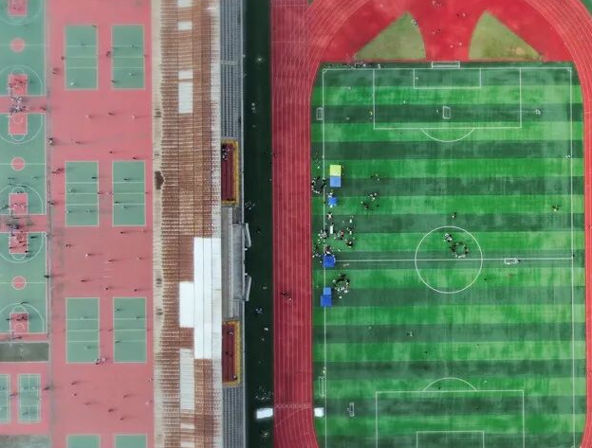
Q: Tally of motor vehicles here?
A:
zero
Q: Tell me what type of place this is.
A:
sports ground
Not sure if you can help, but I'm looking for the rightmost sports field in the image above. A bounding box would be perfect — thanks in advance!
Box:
[310,62,587,448]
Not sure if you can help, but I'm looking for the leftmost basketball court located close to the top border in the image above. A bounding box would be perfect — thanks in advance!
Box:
[0,0,46,96]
